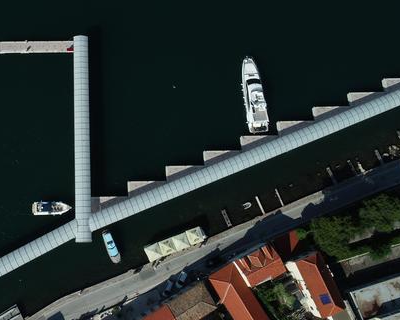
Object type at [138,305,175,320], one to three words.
house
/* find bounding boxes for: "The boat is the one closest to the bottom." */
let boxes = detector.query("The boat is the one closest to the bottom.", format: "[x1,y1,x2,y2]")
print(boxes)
[102,229,120,264]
